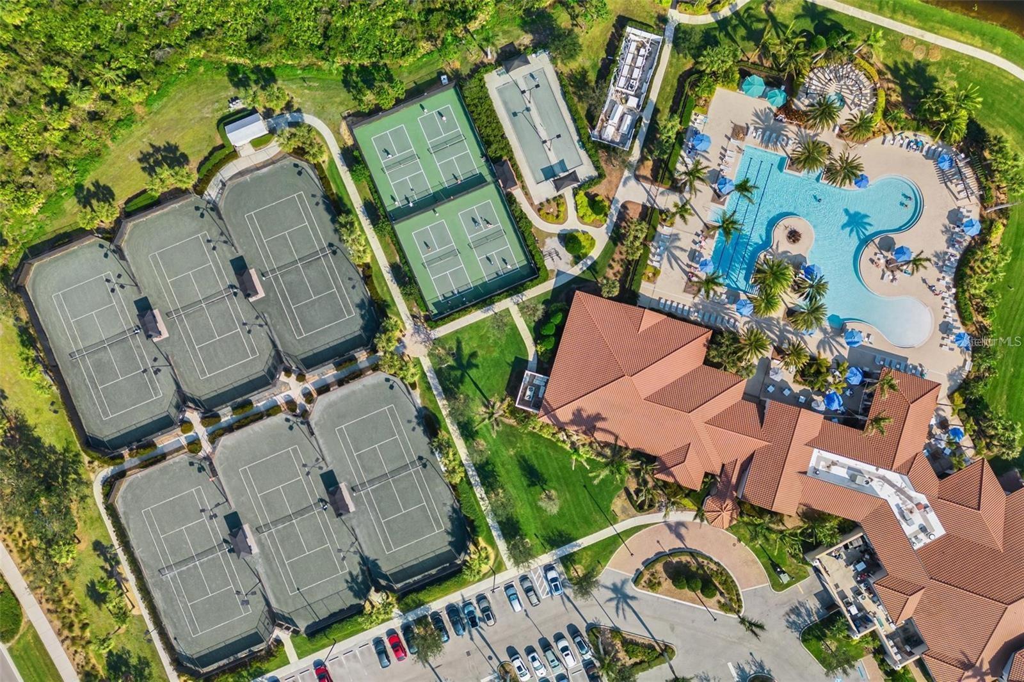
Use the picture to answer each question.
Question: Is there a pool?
Yes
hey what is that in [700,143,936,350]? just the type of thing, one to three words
swimming pool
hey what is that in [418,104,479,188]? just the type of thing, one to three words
sports court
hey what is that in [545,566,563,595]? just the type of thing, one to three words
car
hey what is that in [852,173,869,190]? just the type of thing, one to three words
umbrella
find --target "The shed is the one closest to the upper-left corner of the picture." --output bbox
[225,113,271,147]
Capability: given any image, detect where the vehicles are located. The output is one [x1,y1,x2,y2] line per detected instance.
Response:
[504,583,522,612]
[544,643,563,672]
[373,639,391,668]
[431,612,449,640]
[554,668,569,682]
[478,595,496,624]
[463,600,481,629]
[314,660,332,682]
[388,632,405,661]
[447,606,465,635]
[545,566,563,595]
[511,652,530,681]
[401,624,418,653]
[557,637,577,665]
[583,659,602,682]
[528,648,547,675]
[521,577,539,606]
[573,630,592,658]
